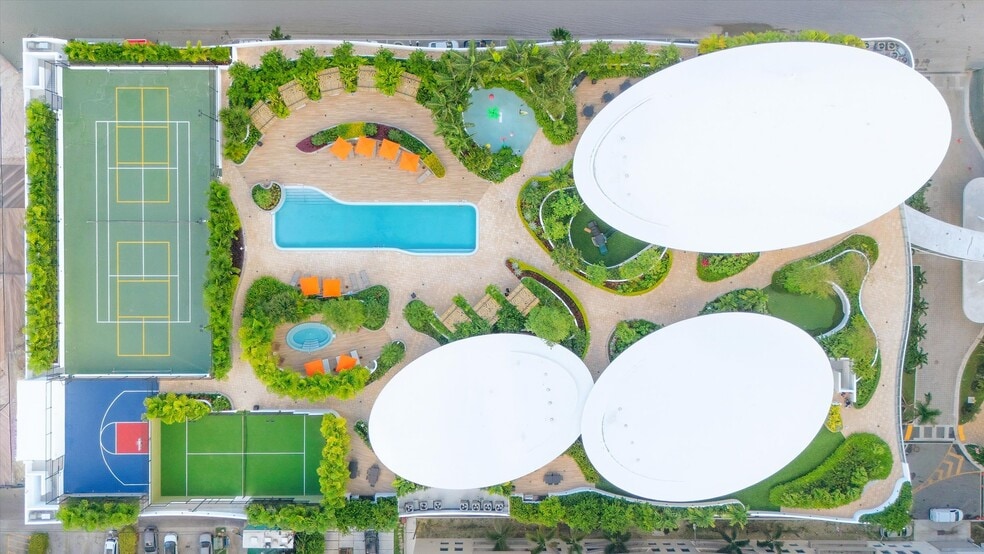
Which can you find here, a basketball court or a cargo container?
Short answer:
basketball court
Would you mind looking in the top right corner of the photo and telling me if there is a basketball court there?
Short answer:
No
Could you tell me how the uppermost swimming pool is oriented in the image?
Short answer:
horizontally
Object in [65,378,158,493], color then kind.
blue basketball court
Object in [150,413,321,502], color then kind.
green sports court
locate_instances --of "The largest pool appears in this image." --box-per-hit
[273,181,479,255]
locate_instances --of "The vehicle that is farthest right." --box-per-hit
[926,506,964,524]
